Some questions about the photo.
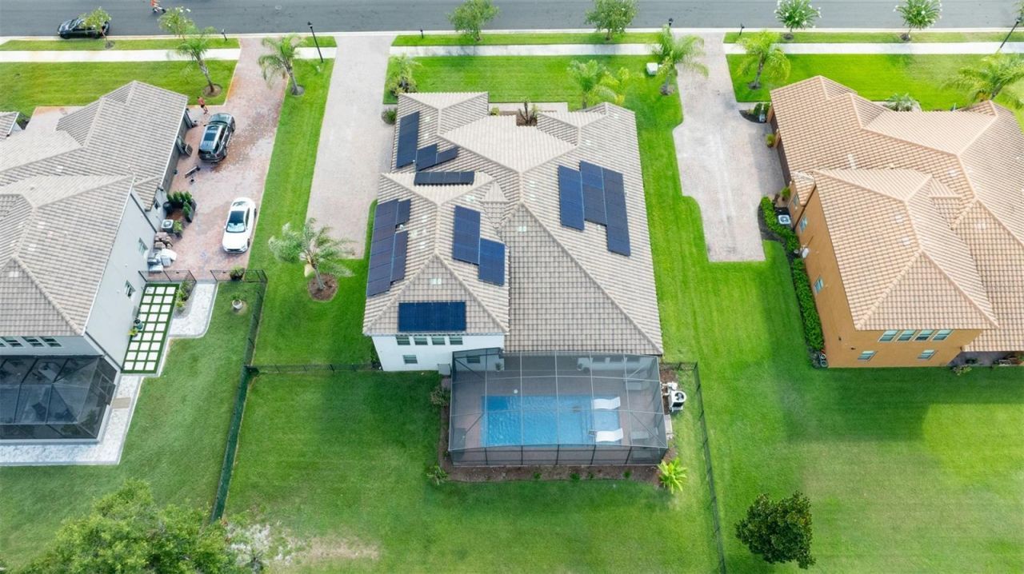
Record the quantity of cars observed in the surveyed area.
3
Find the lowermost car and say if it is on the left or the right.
left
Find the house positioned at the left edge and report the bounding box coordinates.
[0,80,190,370]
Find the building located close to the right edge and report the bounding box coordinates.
[770,79,1024,370]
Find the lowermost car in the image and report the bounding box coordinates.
[218,197,256,254]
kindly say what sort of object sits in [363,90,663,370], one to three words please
house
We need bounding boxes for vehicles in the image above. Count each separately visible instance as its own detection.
[56,12,110,38]
[196,111,233,160]
[218,197,256,254]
